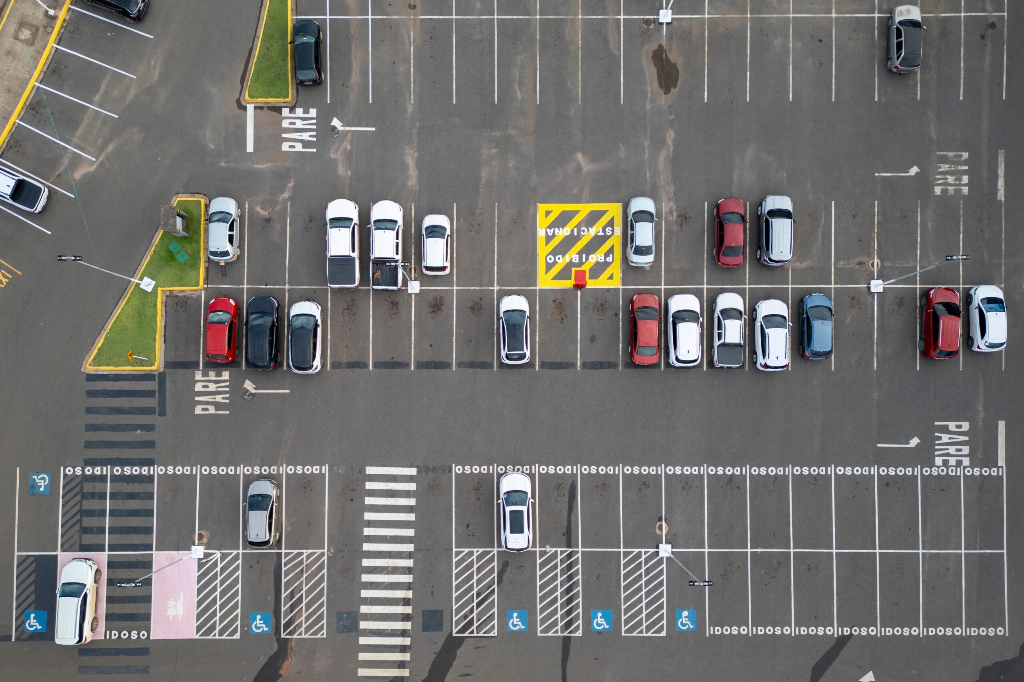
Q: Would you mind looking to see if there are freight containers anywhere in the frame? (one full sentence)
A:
No, the photo shows no freight container.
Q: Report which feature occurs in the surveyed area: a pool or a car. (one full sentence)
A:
The one in the frame is a car.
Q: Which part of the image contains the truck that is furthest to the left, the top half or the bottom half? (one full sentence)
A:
Seen from above, the truck that is furthest to the left lies in the top half of the view.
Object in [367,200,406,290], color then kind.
white truck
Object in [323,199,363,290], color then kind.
white truck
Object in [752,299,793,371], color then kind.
white car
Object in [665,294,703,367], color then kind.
white car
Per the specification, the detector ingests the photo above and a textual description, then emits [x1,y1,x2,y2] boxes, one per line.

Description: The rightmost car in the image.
[965,285,1010,352]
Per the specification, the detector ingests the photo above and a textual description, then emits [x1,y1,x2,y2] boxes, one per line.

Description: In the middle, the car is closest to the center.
[497,295,532,364]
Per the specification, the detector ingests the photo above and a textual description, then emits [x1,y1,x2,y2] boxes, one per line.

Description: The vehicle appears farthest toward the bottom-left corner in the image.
[53,558,104,646]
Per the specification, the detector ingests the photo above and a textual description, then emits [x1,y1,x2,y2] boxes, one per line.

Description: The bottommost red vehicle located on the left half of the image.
[202,297,241,362]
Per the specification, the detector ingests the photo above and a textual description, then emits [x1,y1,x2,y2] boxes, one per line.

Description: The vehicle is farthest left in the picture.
[0,164,51,215]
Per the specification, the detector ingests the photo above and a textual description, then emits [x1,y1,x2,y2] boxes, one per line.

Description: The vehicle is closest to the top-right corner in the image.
[886,5,928,73]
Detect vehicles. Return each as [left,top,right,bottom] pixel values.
[798,293,838,360]
[419,214,453,275]
[752,299,793,371]
[756,195,797,267]
[53,558,104,646]
[712,197,749,268]
[497,295,532,364]
[711,293,748,367]
[242,479,281,548]
[624,196,660,267]
[202,297,241,362]
[918,287,964,359]
[286,301,325,374]
[665,294,703,367]
[243,296,283,370]
[76,0,147,24]
[289,19,326,87]
[965,285,1010,352]
[0,164,51,215]
[628,293,663,365]
[367,200,406,290]
[205,196,244,263]
[497,472,535,552]
[886,5,928,73]
[323,199,363,290]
